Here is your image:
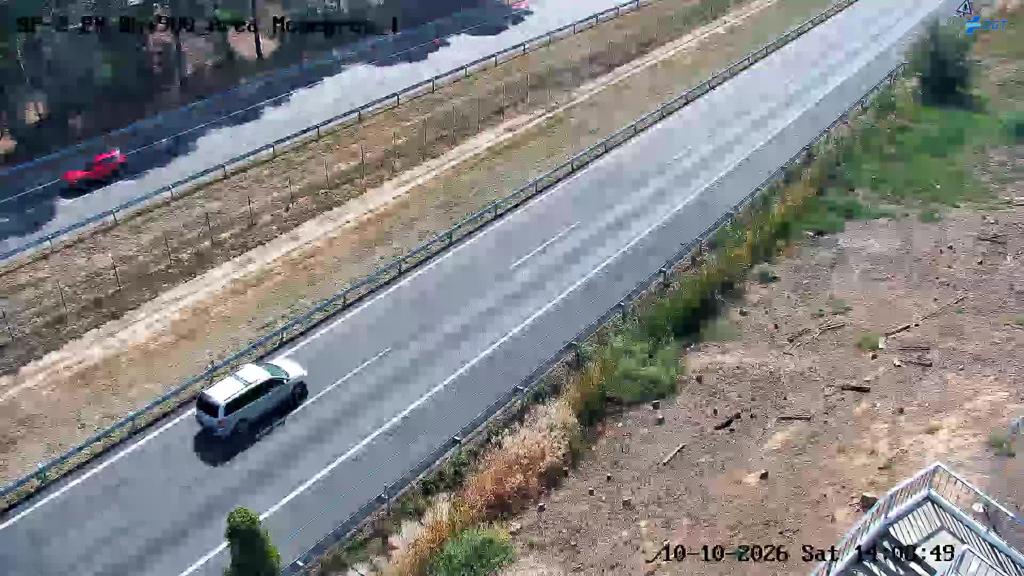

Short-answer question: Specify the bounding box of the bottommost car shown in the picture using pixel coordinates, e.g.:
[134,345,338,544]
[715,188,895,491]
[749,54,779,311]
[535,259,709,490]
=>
[194,359,311,437]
